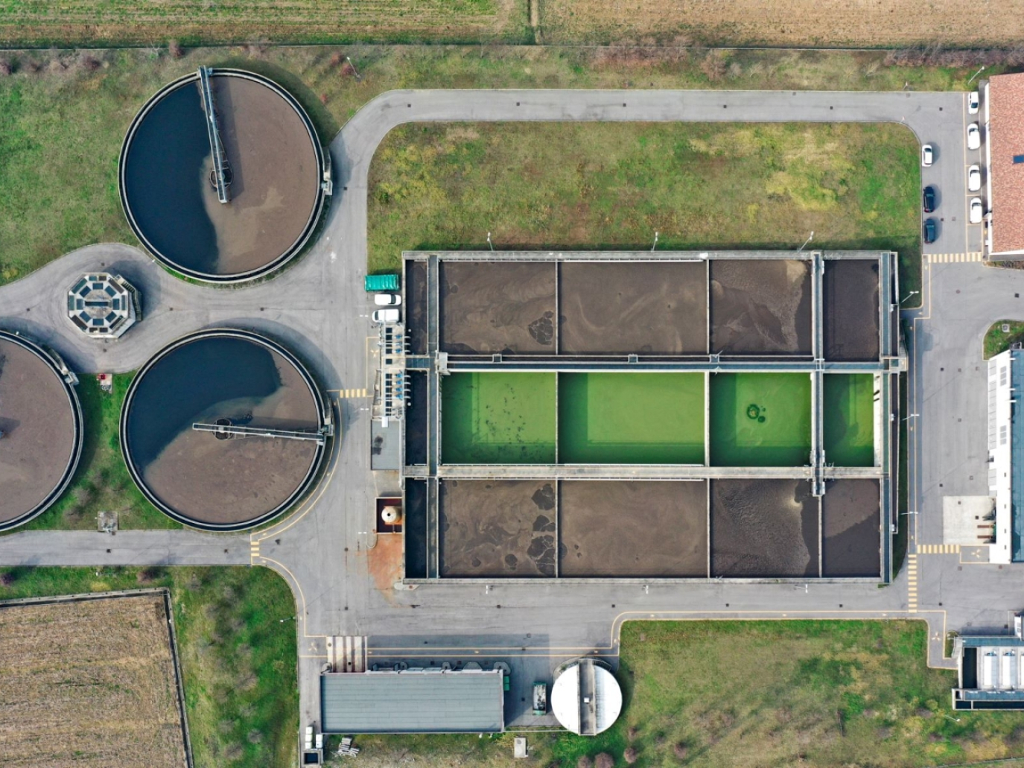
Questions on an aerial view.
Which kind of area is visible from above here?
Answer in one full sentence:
It's an industrial area.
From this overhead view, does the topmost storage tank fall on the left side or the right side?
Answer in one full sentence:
It is on the left.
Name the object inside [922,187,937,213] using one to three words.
car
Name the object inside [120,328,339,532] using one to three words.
storage tank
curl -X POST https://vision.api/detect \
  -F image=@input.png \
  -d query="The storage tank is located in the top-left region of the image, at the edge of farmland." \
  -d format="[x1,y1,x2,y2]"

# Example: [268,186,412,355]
[118,63,339,284]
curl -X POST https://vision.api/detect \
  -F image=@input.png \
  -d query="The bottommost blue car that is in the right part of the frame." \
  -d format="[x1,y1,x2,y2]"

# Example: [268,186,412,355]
[923,220,937,245]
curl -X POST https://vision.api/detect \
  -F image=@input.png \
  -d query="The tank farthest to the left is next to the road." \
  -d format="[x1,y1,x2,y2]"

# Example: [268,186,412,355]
[0,329,88,532]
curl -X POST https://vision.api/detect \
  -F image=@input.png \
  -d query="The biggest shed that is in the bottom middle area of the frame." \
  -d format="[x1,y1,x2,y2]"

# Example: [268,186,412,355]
[316,657,507,738]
